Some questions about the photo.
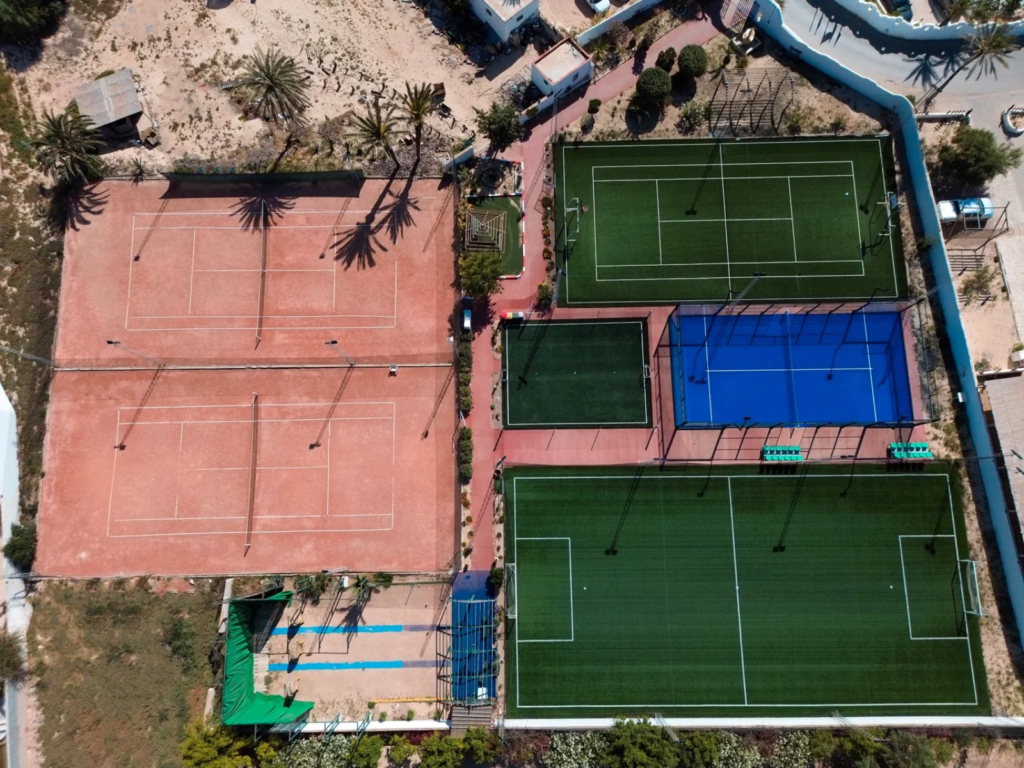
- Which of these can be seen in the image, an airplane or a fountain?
fountain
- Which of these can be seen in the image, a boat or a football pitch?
football pitch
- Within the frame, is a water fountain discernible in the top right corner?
Yes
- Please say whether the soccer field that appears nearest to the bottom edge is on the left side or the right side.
right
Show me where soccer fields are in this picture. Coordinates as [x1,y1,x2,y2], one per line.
[501,317,653,429]
[505,462,990,717]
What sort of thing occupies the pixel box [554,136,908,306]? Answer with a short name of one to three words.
sports court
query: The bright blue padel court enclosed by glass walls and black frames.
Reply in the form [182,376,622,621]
[671,311,913,429]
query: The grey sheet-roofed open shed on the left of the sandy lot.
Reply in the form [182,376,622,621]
[73,67,150,138]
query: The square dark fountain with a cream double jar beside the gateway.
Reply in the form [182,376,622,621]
[725,23,765,59]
